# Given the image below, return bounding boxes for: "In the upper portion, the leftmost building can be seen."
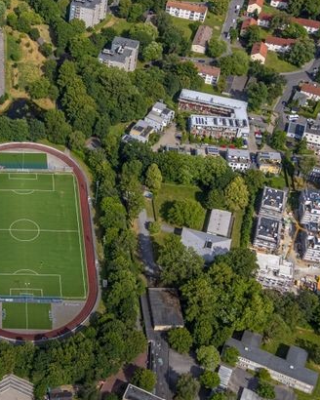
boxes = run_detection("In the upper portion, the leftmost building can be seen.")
[69,0,107,34]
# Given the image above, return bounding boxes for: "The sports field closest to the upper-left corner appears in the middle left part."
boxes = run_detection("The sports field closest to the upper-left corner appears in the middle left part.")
[0,153,47,168]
